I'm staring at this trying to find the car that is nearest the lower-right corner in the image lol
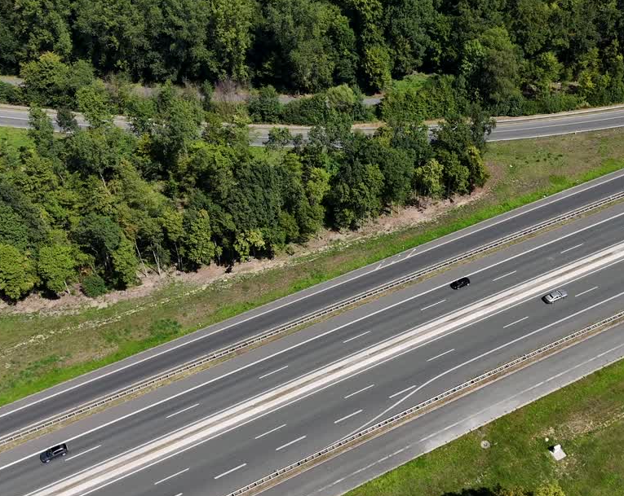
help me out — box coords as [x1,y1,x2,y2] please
[544,287,567,300]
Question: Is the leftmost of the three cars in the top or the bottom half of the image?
bottom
